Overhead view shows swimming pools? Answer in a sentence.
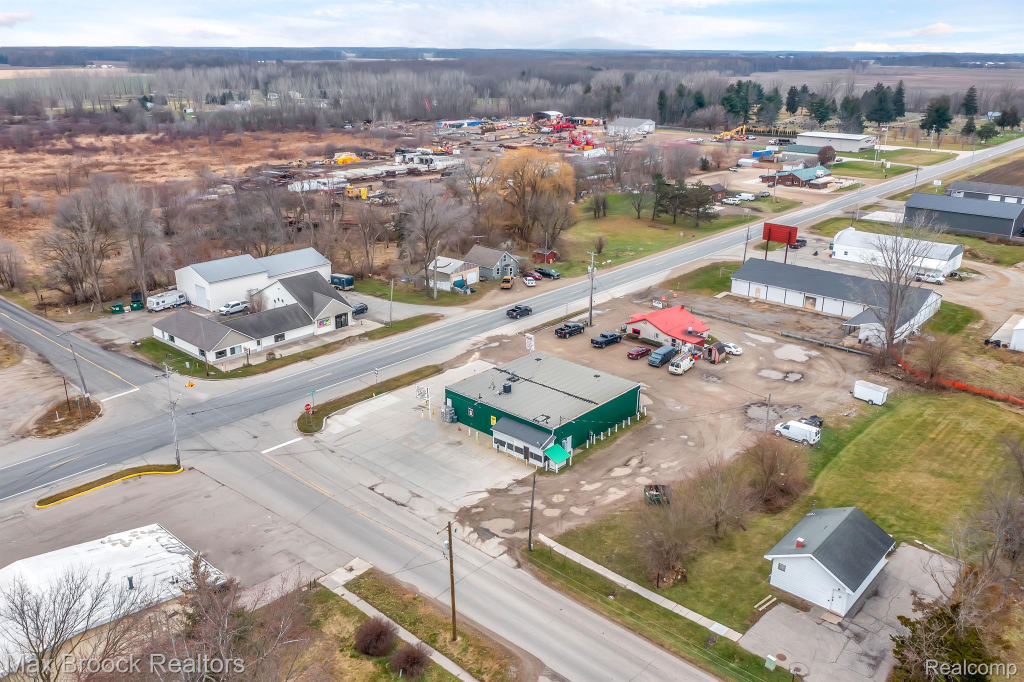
No, the scene contains no swimming pool.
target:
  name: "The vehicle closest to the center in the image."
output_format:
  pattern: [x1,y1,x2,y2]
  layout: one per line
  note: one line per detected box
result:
[505,306,533,319]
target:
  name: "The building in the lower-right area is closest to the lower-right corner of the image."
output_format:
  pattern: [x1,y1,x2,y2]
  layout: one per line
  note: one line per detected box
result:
[762,500,898,620]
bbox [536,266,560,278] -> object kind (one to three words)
vehicle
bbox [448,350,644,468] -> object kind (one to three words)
building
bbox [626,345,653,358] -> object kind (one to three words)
vehicle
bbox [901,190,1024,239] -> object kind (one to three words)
building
